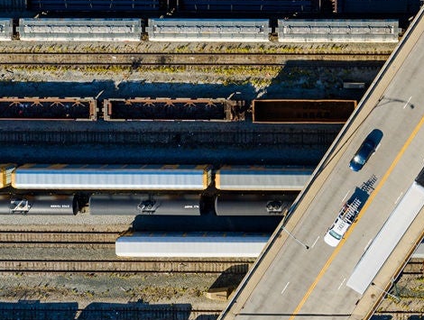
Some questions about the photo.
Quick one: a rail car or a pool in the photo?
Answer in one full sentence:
This aerial view contains a rail car.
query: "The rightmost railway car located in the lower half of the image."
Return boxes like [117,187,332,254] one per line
[209,191,299,218]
